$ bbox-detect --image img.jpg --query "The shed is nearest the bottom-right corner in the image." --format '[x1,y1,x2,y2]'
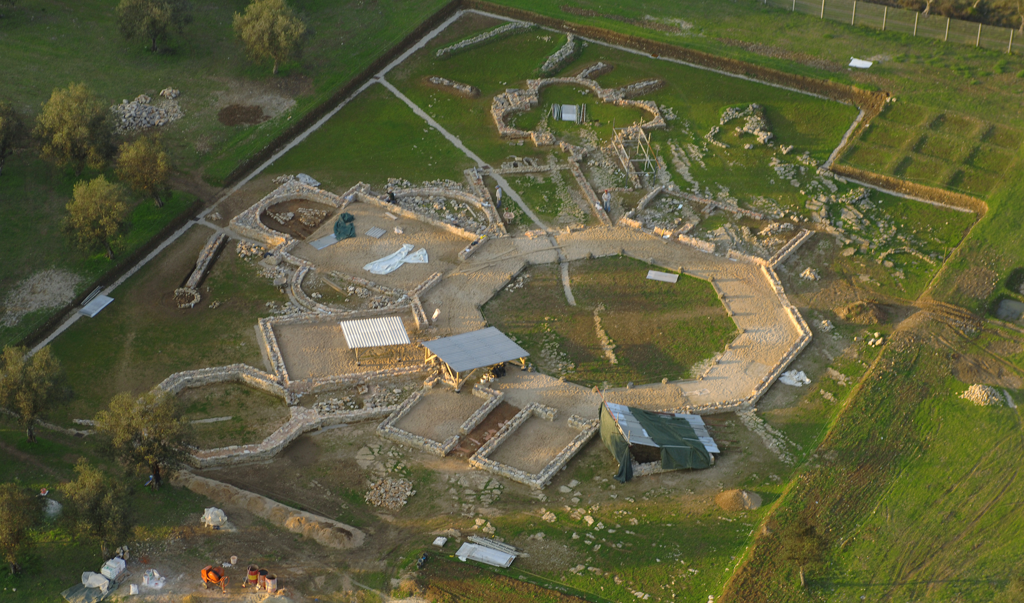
[595,385,737,501]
